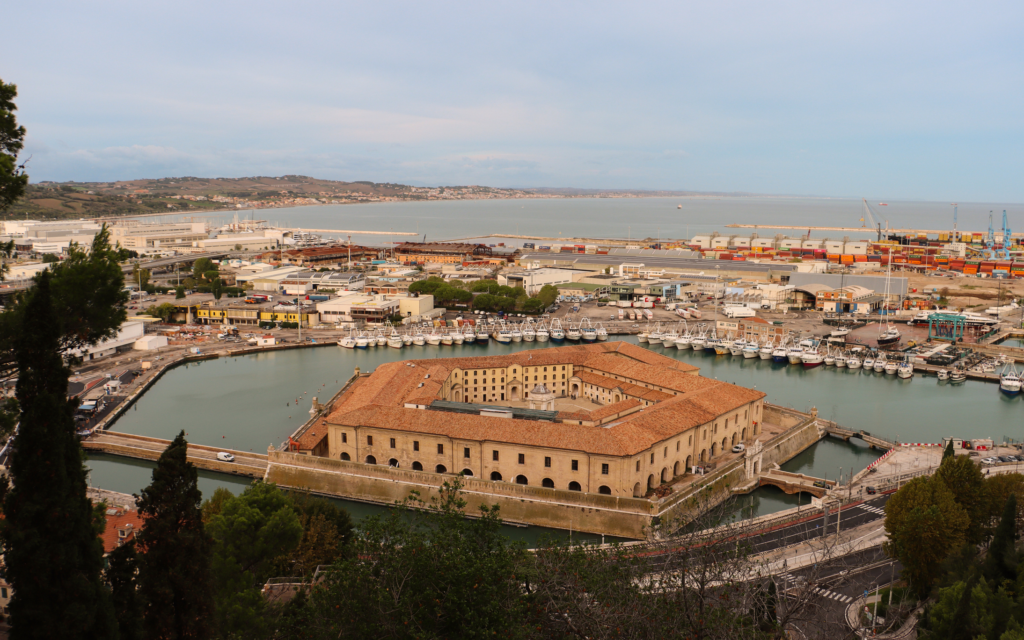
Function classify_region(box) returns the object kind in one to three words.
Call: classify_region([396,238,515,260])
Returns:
hangar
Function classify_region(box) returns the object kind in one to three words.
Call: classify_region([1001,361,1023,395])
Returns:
boat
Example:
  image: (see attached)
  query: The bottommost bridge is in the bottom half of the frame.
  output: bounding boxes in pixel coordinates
[759,477,835,504]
